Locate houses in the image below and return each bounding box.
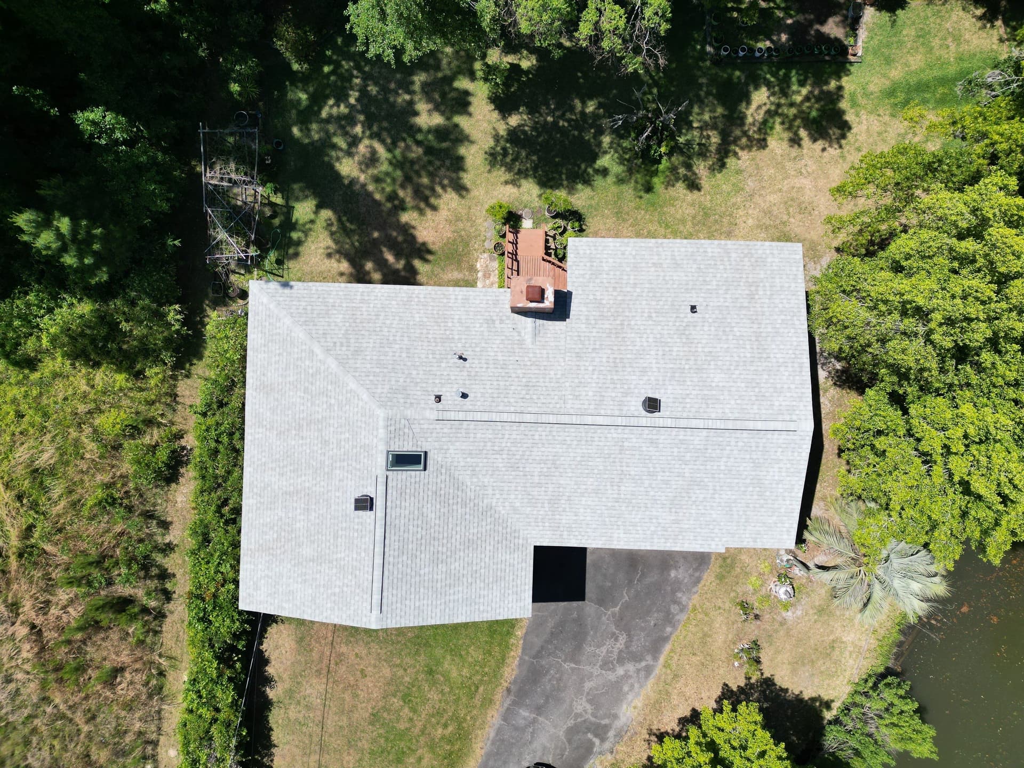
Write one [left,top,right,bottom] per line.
[240,237,815,629]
